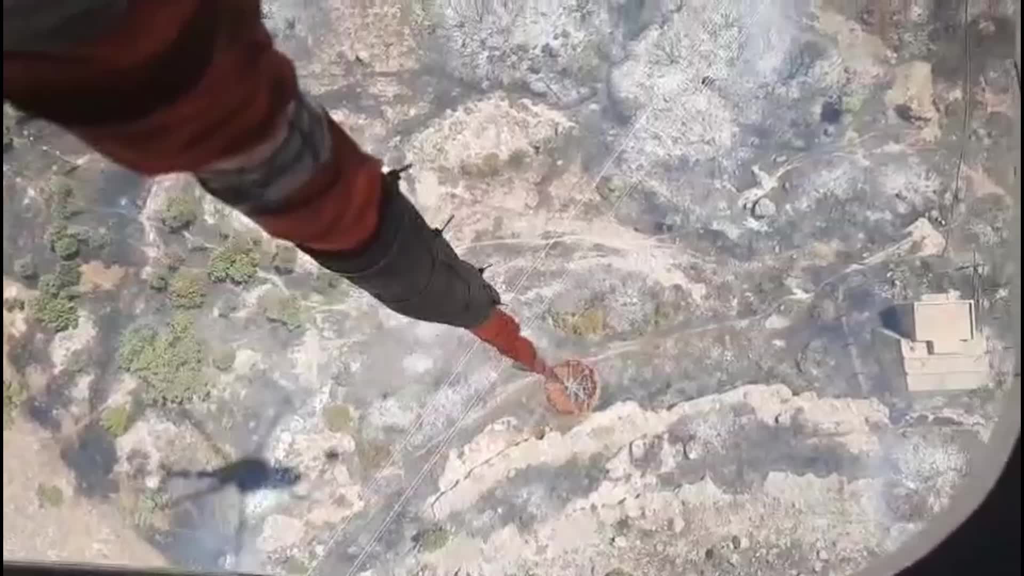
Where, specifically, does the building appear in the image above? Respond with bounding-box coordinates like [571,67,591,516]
[895,290,991,391]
